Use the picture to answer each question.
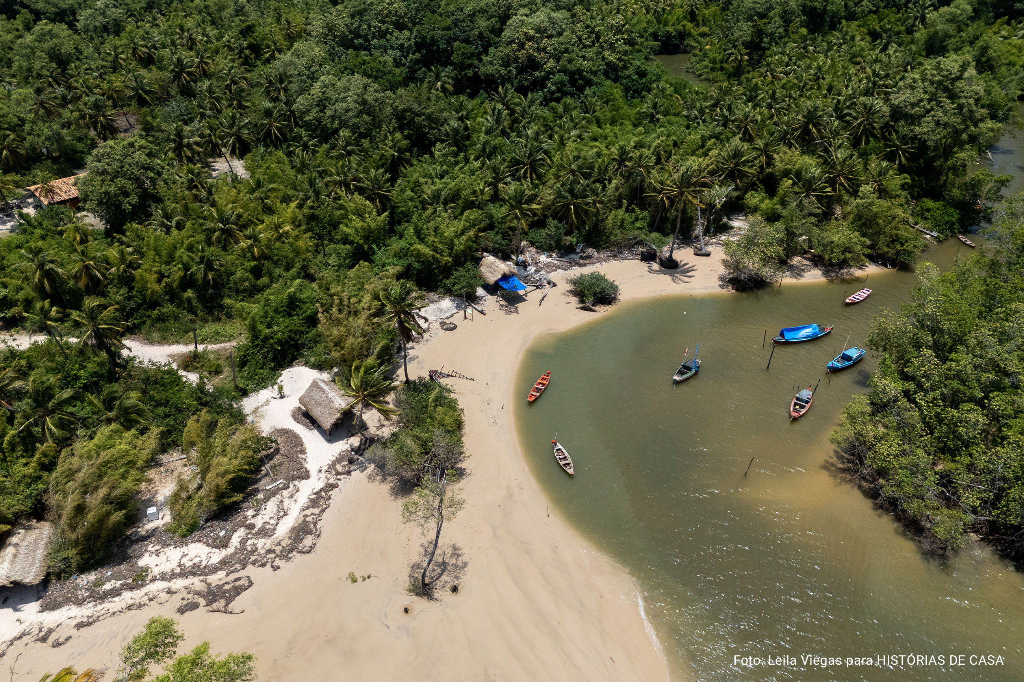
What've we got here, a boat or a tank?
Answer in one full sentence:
The one in the frame is a boat.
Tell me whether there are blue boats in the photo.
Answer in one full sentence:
Yes, I can see a blue boat in this picture.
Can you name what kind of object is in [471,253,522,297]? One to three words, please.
shed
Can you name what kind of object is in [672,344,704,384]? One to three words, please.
boat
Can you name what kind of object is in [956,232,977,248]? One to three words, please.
boat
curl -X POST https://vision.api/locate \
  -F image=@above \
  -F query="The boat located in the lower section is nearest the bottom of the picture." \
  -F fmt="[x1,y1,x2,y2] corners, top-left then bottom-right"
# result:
[546,425,575,479]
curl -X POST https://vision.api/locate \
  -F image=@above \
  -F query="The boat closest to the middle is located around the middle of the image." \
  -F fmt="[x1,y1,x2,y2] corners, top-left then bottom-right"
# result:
[527,368,551,404]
